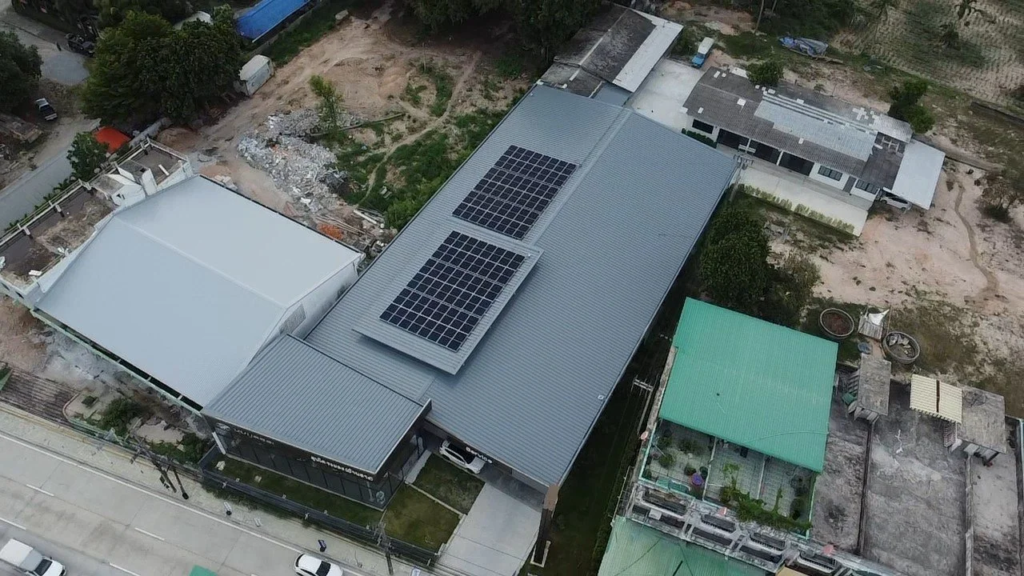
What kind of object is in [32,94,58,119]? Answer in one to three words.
truck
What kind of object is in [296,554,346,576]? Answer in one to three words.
car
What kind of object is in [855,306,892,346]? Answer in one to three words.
shed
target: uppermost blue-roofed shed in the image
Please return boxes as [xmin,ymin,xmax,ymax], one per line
[236,0,314,49]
